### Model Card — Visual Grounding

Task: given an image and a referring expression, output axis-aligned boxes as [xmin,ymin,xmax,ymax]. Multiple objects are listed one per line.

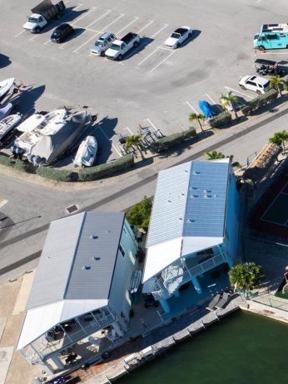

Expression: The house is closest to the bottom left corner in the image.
[18,210,135,377]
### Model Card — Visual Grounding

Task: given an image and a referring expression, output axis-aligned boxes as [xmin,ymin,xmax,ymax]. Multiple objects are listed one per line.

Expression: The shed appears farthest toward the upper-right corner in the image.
[235,143,288,197]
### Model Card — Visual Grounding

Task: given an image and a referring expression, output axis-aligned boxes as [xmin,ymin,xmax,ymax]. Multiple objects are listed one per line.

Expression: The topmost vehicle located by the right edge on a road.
[255,26,288,50]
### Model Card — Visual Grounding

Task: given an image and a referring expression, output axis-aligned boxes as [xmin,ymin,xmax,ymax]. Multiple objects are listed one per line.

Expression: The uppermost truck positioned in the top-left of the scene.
[22,0,72,29]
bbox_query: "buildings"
[142,159,235,319]
[235,143,288,197]
[18,210,135,377]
